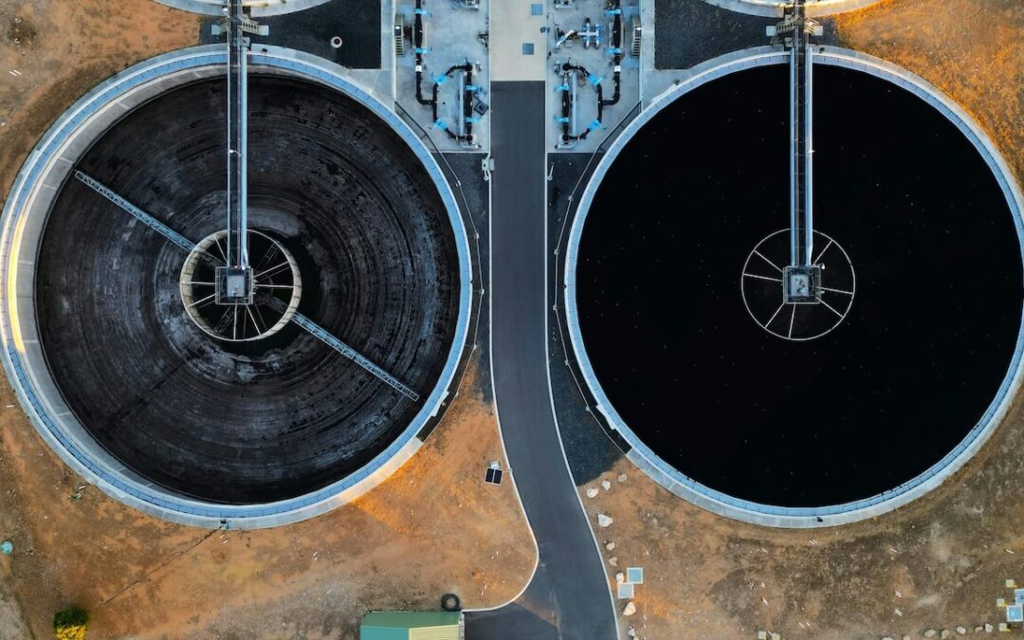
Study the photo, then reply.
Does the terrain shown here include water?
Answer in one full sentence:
Yes, the picture does contain water.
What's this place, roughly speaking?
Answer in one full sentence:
It's an industrial area.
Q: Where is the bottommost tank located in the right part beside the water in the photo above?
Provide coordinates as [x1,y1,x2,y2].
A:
[562,49,1024,522]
